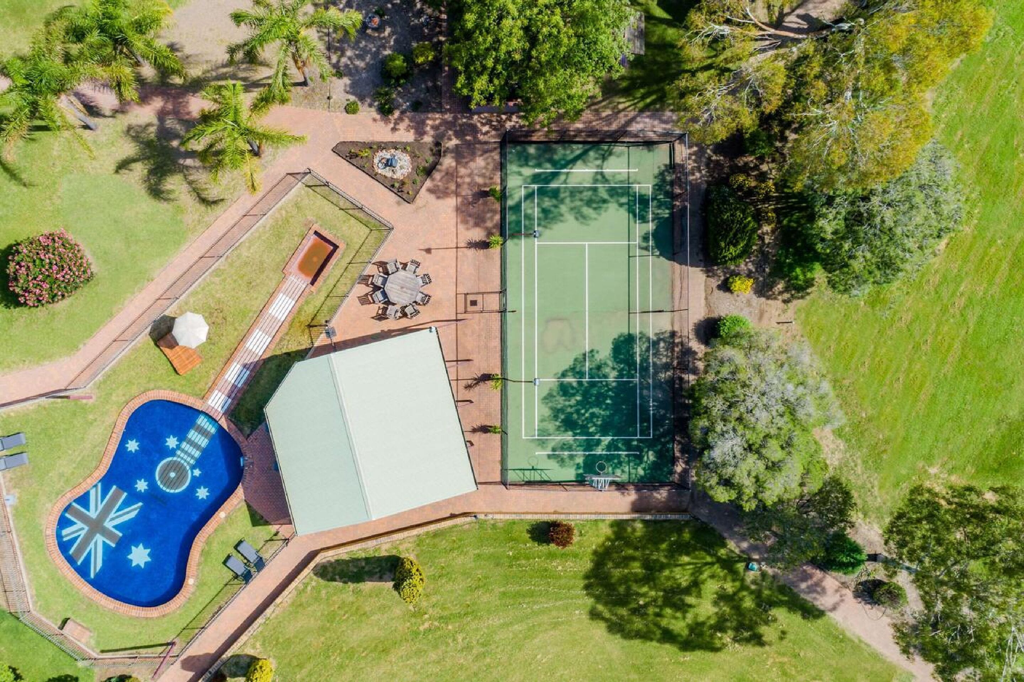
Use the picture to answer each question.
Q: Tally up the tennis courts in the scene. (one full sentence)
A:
Just 1 tennis court appears in this view.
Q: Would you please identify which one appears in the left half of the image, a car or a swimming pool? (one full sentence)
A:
The one visible in the left half of the image is a swimming pool.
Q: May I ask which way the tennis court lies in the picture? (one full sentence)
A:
Seen from above, the tennis court lies vertically.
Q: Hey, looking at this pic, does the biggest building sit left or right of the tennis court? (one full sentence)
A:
The biggest building appears to the left of the tennis court in this view.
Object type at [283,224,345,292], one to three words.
pond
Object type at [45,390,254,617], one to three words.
swimming pool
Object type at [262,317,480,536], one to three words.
building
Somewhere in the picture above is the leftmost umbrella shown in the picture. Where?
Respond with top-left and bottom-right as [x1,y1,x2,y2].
[173,312,209,348]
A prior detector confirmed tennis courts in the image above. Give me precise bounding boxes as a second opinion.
[503,142,673,482]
